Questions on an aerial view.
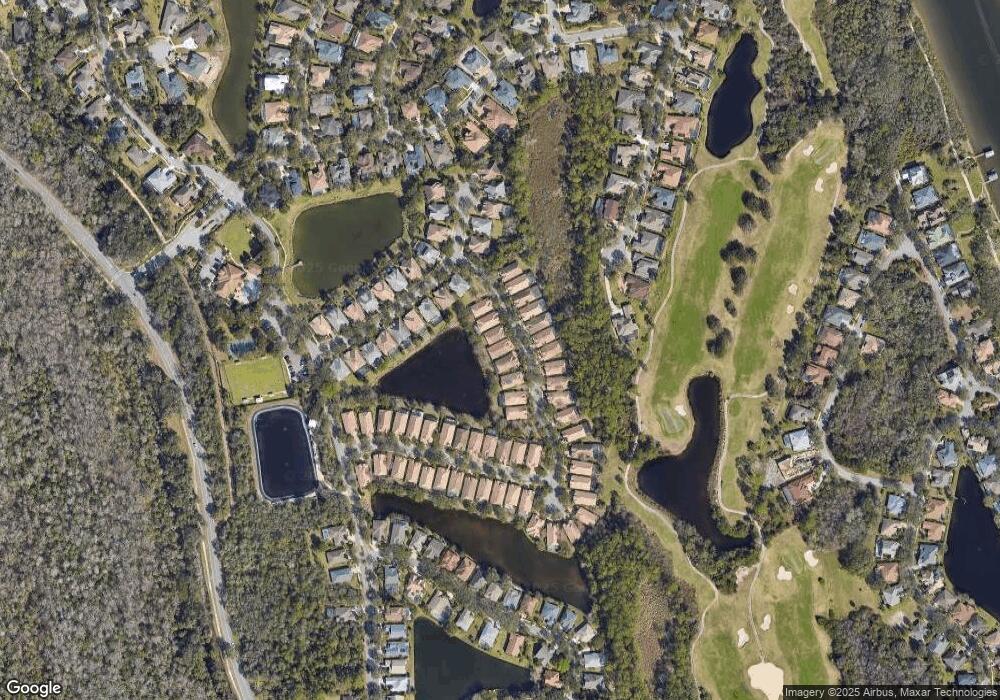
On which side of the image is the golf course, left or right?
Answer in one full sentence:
The golf course is on the right side of the image.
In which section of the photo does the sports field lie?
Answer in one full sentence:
The sports field is located in the left region of the scene.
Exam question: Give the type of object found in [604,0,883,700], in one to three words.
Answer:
golf course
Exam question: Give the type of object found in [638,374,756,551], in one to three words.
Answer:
pond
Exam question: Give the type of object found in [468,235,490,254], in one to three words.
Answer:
house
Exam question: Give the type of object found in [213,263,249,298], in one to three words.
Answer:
building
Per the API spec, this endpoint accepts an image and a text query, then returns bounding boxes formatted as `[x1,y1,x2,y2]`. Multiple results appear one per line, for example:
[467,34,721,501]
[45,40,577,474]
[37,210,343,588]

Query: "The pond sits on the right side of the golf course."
[944,465,1000,625]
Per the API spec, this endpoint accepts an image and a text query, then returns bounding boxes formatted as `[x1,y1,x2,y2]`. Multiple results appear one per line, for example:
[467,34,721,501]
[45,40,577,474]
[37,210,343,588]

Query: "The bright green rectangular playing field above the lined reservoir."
[226,356,288,404]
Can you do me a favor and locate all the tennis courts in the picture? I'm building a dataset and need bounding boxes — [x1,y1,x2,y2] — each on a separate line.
[229,340,257,357]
